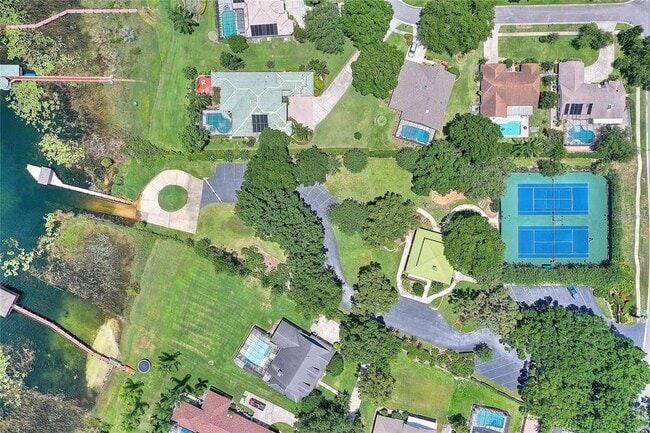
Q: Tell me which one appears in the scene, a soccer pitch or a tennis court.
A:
tennis court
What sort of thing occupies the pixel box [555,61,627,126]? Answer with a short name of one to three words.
house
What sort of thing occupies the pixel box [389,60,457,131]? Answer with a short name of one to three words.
house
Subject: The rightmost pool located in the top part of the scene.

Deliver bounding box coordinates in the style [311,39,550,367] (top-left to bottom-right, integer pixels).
[564,119,599,146]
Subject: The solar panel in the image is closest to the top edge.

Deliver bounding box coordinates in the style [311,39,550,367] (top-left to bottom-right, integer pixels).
[251,23,278,36]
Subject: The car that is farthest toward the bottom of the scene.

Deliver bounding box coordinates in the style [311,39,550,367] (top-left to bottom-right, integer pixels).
[249,398,265,410]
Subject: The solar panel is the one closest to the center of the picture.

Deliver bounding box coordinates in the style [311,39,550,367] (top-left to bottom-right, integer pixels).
[252,114,268,132]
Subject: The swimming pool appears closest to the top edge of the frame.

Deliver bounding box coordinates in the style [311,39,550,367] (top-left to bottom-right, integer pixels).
[217,0,248,39]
